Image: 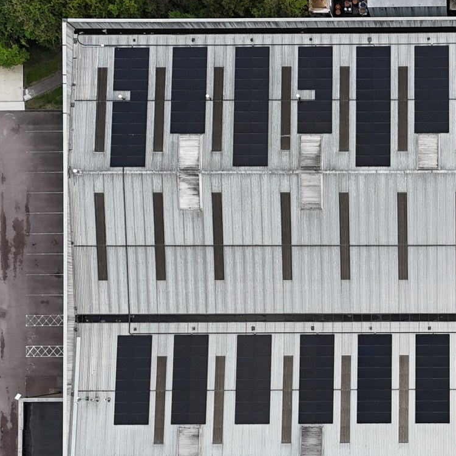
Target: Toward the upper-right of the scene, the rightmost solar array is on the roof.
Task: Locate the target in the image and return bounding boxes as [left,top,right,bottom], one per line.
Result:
[414,45,448,133]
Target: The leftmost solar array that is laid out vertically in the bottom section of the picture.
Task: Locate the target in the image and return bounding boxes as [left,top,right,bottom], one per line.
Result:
[115,335,152,424]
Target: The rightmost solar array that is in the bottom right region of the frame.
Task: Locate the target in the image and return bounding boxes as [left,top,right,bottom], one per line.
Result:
[415,334,449,423]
